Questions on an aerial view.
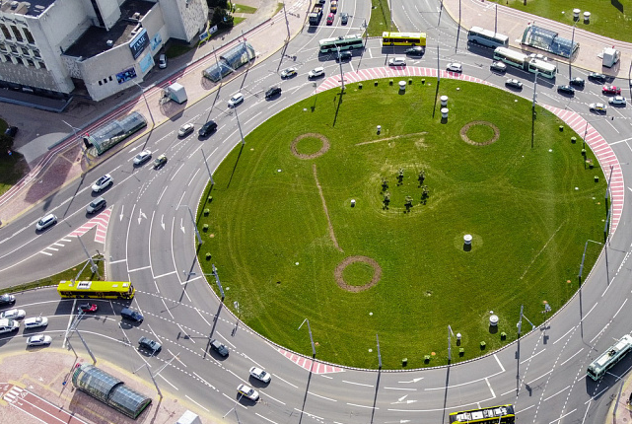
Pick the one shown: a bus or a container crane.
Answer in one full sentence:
The one in the frame is a bus.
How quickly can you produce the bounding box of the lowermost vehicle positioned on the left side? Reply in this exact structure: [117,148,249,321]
[235,384,261,402]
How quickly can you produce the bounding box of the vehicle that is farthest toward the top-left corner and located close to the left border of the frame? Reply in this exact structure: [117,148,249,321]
[2,124,21,137]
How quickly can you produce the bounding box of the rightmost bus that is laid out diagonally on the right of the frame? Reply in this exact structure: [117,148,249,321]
[583,334,632,381]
